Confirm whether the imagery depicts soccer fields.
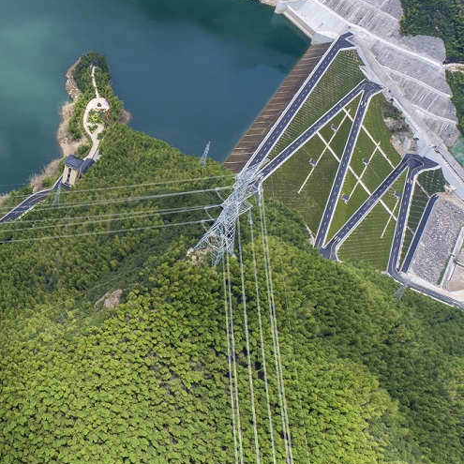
No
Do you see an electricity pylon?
Yes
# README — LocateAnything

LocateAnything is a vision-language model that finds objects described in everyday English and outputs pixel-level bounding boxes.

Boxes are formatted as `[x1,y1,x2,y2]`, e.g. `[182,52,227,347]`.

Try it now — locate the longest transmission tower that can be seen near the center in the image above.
[194,165,259,265]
